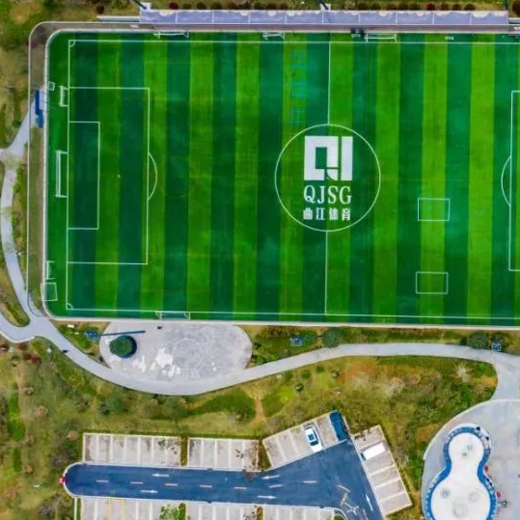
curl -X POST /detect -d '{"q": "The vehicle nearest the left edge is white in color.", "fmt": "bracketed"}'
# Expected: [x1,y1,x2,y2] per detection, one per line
[302,423,322,452]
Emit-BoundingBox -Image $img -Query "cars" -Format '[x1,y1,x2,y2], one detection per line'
[302,423,322,452]
[358,442,388,461]
[328,411,348,440]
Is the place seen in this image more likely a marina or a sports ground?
sports ground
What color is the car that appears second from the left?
blue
